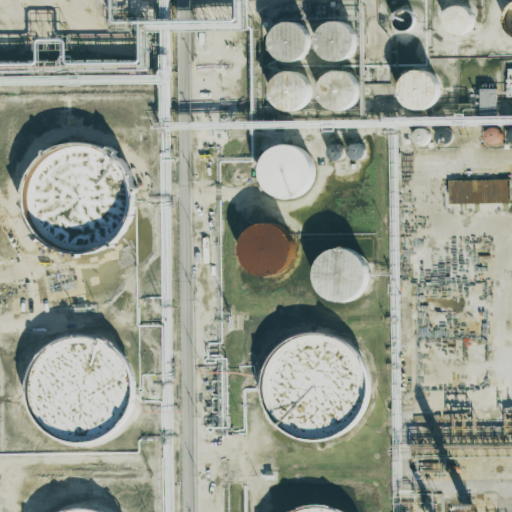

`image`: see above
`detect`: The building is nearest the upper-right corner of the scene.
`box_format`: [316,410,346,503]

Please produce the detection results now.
[480,86,498,109]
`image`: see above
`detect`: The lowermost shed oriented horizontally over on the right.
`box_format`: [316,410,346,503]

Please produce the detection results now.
[448,180,510,204]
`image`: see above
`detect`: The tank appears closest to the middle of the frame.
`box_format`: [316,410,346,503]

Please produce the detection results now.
[237,222,296,278]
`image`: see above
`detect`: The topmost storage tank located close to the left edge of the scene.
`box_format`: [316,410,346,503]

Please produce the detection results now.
[22,143,134,254]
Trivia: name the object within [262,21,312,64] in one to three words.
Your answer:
storage tank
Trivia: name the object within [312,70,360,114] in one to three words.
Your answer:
storage tank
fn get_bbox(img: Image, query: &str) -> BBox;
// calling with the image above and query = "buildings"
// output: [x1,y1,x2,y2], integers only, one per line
[448,180,510,204]
[480,86,498,109]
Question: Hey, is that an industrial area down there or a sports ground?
industrial area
